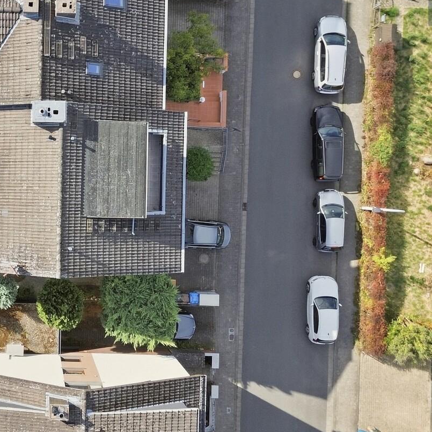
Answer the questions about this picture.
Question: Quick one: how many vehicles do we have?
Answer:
6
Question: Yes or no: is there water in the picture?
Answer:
No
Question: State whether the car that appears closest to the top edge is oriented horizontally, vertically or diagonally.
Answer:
vertically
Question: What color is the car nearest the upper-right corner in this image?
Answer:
white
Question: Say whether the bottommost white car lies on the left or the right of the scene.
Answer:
right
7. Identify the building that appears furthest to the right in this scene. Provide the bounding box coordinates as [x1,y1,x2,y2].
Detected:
[374,21,397,40]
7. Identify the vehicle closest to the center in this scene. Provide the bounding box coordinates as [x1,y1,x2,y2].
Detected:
[187,220,231,249]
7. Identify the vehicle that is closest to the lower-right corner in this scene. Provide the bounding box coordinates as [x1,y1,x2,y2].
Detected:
[305,275,342,344]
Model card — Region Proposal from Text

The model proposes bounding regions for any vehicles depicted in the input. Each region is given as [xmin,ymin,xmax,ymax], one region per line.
[170,310,194,342]
[311,189,348,253]
[312,17,350,94]
[310,105,348,180]
[187,220,231,249]
[305,275,342,344]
